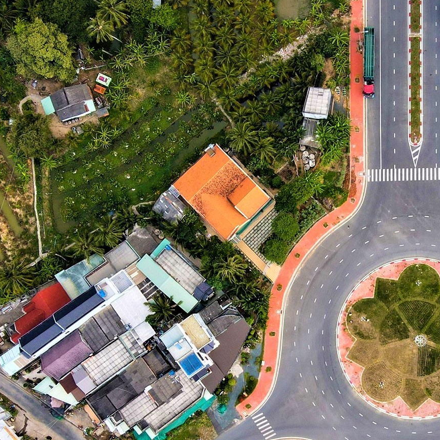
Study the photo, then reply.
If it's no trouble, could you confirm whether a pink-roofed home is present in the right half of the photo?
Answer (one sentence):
No, there's no pink-roofed home to be seen in the right half of the photo.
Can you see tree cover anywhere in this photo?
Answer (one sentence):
Yes, there is tree cover in the image.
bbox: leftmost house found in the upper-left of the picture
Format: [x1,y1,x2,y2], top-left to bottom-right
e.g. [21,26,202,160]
[42,84,112,122]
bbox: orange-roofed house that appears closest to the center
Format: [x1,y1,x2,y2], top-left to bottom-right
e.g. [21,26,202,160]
[153,143,274,239]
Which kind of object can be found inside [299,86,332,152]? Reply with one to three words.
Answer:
house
